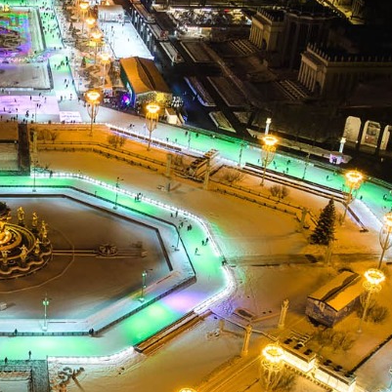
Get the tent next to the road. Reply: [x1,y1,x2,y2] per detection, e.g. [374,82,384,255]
[95,1,127,22]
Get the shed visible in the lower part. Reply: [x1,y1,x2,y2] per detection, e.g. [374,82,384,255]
[306,278,365,325]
